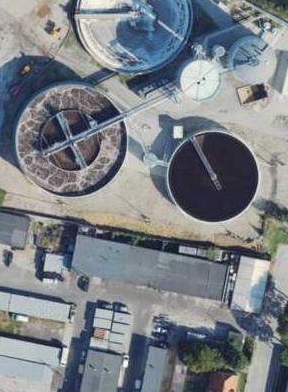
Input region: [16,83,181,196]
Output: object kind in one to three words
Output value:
storage tank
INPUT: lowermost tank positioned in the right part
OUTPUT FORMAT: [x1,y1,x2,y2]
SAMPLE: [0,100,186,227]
[167,130,260,223]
